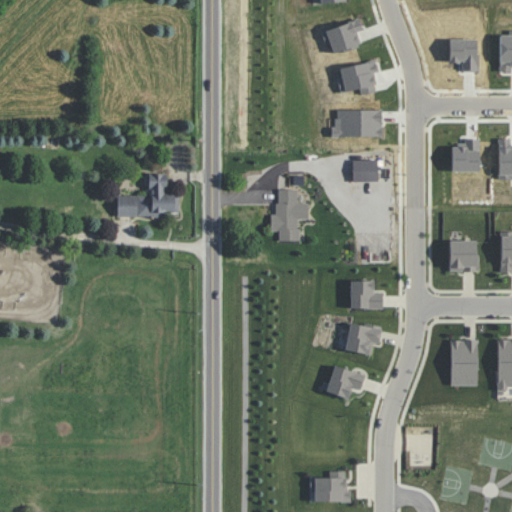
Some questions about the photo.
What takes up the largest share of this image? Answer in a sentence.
The scene is dominated by grass.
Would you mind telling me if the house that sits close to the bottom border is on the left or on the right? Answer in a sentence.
The house that sits close to the bottom border sits on the right side.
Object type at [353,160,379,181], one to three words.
building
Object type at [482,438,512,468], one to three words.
basketball court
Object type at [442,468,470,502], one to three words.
basketball court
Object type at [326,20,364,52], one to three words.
house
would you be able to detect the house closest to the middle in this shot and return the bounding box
[272,190,309,242]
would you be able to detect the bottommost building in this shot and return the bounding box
[315,472,351,504]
